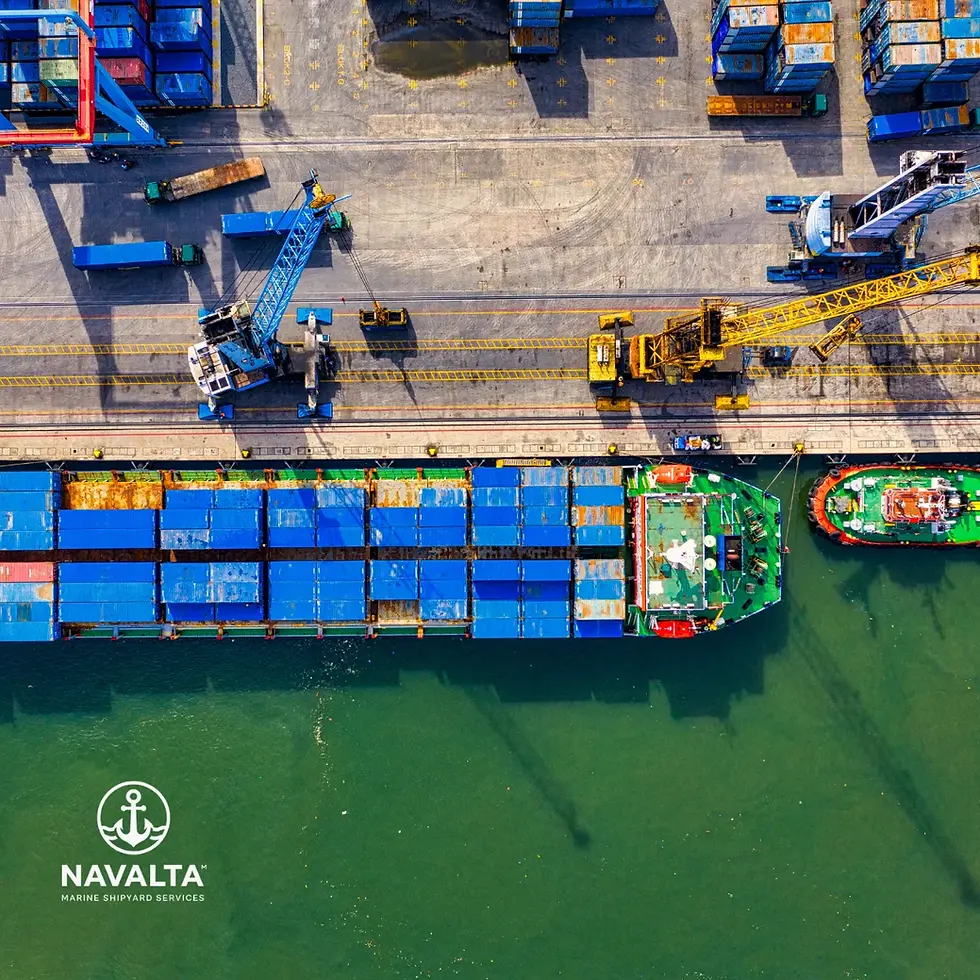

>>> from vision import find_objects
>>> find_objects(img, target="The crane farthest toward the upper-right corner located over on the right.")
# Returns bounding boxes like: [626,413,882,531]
[765,149,980,282]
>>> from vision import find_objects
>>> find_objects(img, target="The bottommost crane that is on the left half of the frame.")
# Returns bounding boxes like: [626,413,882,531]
[184,163,384,419]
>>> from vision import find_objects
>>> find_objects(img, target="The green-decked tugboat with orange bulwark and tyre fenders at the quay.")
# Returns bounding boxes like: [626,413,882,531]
[806,459,980,546]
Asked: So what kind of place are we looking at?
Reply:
port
